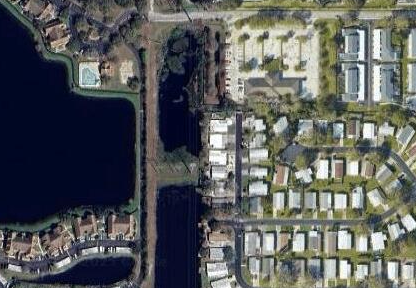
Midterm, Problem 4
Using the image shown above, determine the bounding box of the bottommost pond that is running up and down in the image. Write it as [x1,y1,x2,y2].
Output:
[155,185,203,288]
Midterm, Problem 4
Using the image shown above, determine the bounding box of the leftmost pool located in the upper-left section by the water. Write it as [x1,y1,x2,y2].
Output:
[79,62,101,87]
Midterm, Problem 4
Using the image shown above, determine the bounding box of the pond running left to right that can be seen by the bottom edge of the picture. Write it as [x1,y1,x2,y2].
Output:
[16,256,134,285]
